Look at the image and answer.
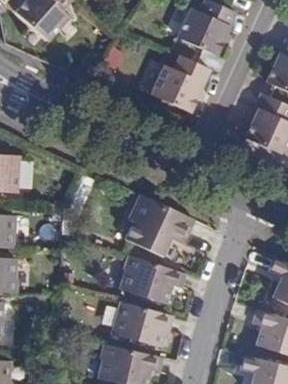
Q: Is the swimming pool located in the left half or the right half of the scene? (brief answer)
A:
left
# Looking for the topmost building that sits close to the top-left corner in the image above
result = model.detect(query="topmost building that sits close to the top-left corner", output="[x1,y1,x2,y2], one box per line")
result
[18,0,76,42]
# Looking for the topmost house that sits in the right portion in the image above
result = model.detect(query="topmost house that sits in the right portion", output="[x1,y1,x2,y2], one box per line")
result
[178,0,238,53]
